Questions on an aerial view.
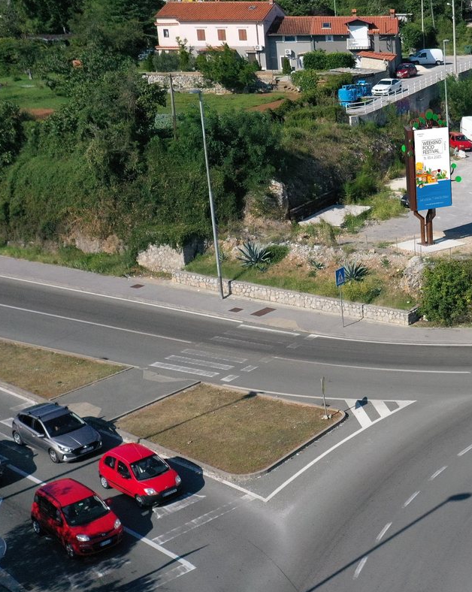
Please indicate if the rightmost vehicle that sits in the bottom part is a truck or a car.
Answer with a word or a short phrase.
car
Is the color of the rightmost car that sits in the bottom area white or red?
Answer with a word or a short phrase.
red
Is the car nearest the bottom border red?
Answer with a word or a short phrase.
Yes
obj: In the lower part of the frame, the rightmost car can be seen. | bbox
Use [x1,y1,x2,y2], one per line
[103,437,178,500]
